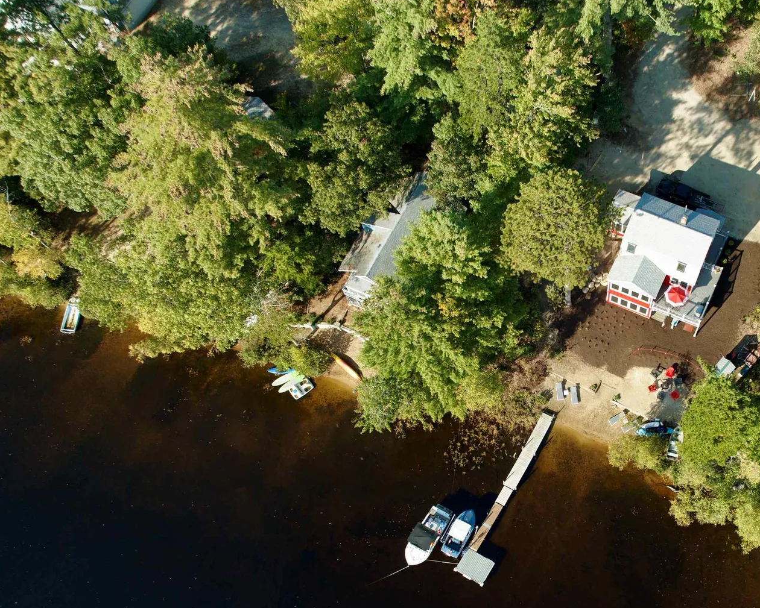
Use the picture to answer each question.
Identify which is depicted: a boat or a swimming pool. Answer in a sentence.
The one in the frame is a boat.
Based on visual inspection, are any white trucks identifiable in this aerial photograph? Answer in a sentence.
No, this view has no white truck in it.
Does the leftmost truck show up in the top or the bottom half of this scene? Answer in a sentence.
The leftmost truck sits in the top half of the picture.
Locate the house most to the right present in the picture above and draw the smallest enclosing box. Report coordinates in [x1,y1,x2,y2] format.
[604,189,726,318]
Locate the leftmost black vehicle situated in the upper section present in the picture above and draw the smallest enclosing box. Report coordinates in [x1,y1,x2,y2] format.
[654,174,712,208]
